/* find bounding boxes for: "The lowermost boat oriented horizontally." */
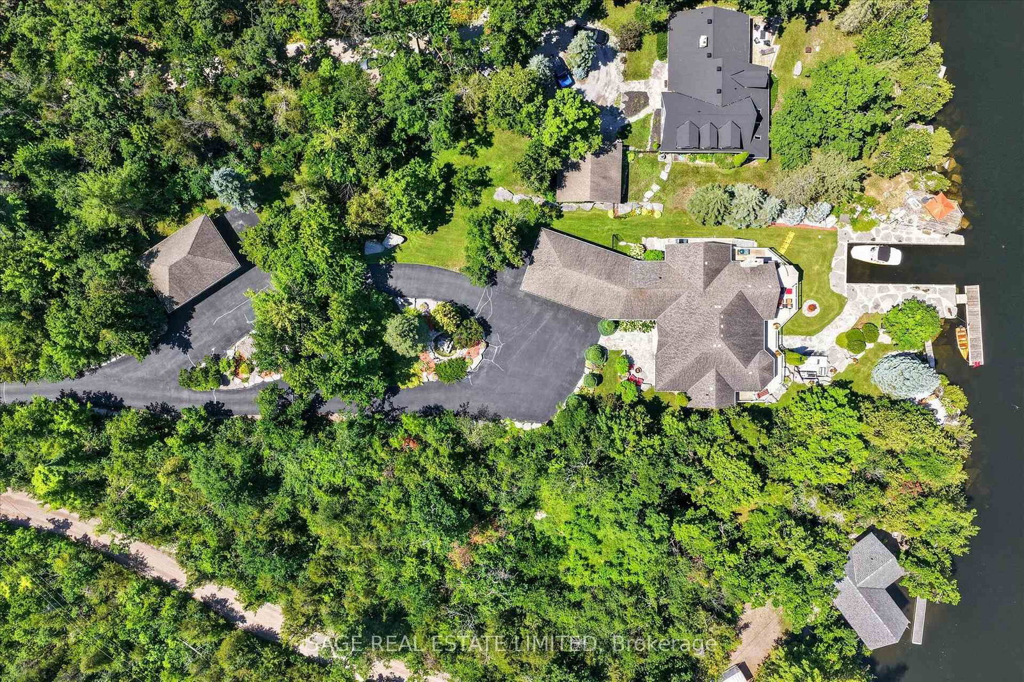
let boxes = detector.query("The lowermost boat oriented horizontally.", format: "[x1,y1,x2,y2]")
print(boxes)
[851,246,905,266]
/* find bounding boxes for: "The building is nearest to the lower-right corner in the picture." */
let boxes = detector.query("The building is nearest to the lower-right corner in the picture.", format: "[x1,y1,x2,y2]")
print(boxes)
[825,533,913,651]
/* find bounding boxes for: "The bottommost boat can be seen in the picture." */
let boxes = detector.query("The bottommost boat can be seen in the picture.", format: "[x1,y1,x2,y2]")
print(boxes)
[954,323,969,359]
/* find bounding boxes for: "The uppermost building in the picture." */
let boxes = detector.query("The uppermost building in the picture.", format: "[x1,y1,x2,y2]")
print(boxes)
[660,6,772,160]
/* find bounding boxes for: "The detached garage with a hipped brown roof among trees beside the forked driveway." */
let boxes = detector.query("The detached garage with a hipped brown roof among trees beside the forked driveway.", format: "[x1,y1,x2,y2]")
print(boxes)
[137,213,244,313]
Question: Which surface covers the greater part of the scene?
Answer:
trees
